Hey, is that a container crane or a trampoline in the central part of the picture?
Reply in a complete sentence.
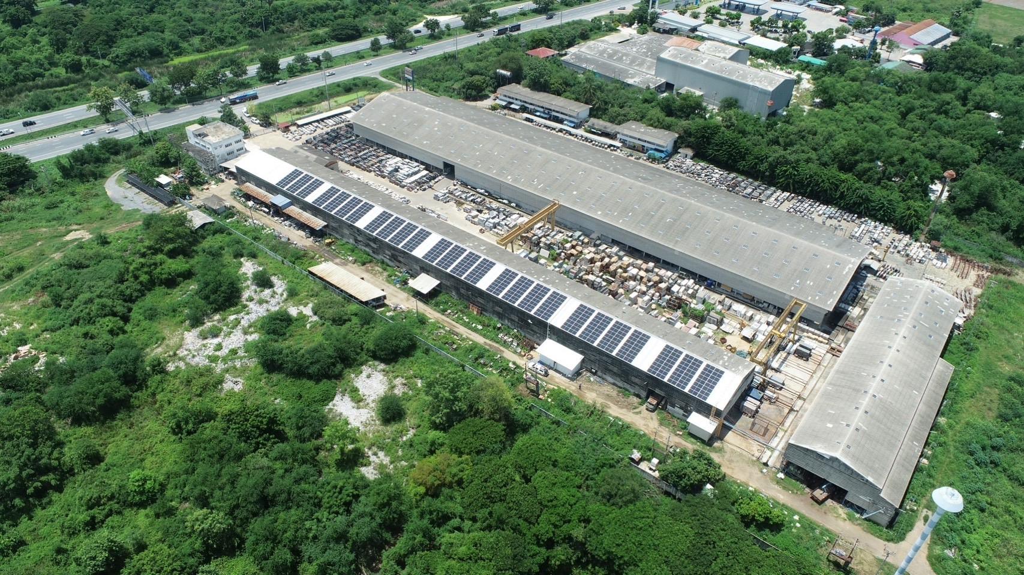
Visible in the central part of the picture is a container crane.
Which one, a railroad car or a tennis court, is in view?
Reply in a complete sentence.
It is a railroad car that can be seen here.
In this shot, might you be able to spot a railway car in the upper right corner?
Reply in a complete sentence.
No, I see no railway car in the upper right corner.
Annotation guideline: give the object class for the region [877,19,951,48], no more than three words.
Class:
building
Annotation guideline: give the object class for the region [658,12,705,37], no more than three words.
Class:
building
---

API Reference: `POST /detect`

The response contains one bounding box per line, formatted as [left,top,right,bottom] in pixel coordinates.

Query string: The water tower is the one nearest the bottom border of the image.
[893,490,963,575]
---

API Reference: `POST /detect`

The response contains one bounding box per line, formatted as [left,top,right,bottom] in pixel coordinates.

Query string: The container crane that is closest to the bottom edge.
[744,296,812,390]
